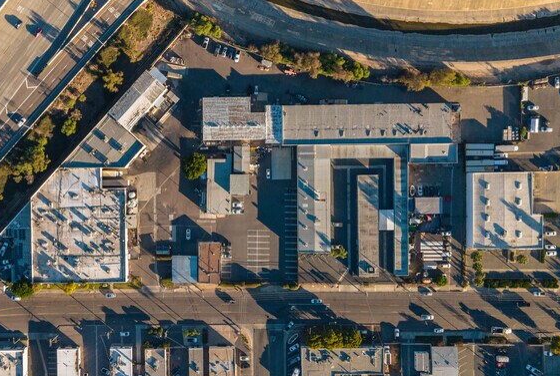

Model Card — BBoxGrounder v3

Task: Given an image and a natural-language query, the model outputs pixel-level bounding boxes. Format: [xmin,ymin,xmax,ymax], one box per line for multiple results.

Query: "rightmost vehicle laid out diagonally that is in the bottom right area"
[526,364,542,376]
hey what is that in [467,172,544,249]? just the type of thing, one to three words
building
